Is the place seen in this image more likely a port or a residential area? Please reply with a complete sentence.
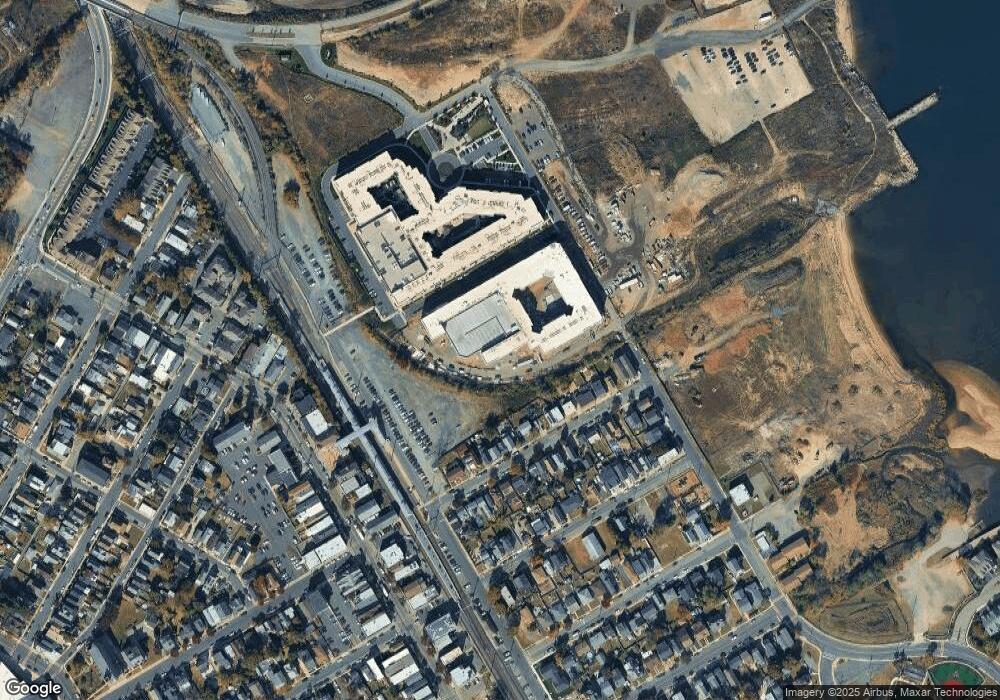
What you see here is a residential area.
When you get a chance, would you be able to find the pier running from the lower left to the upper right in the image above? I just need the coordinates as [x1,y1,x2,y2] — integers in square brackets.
[882,94,939,131]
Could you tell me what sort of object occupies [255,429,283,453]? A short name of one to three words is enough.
building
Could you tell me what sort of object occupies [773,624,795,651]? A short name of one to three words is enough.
house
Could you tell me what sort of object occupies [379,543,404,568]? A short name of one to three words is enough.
building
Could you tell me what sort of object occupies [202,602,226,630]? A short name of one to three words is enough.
house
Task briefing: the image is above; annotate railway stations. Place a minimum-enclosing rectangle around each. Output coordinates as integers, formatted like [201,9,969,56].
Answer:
[293,324,463,607]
